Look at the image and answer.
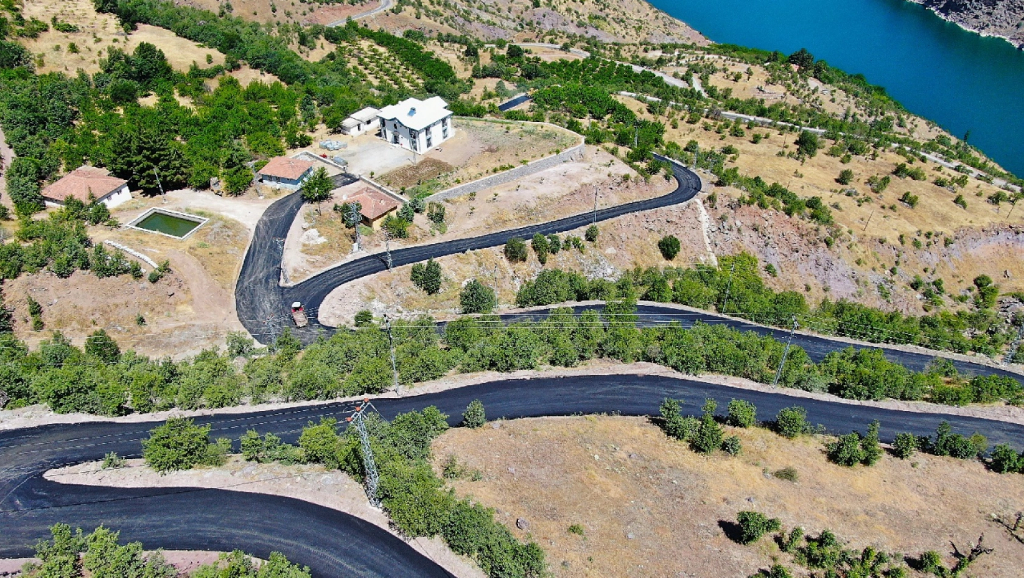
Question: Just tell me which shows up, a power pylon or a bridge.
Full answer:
Visible in the photo is a power pylon.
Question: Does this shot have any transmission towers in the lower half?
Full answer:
Yes, looking in the lower half, one can make out a transmission tower.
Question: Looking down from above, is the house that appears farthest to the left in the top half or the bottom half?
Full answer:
Seen from above, the house that appears farthest to the left lies in the top half of the view.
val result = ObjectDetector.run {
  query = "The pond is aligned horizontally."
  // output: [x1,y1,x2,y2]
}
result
[127,207,208,240]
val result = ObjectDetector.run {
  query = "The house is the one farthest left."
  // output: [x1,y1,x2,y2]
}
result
[38,172,141,212]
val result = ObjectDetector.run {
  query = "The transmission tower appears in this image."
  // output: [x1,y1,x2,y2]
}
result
[340,401,382,514]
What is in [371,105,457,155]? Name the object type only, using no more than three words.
house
